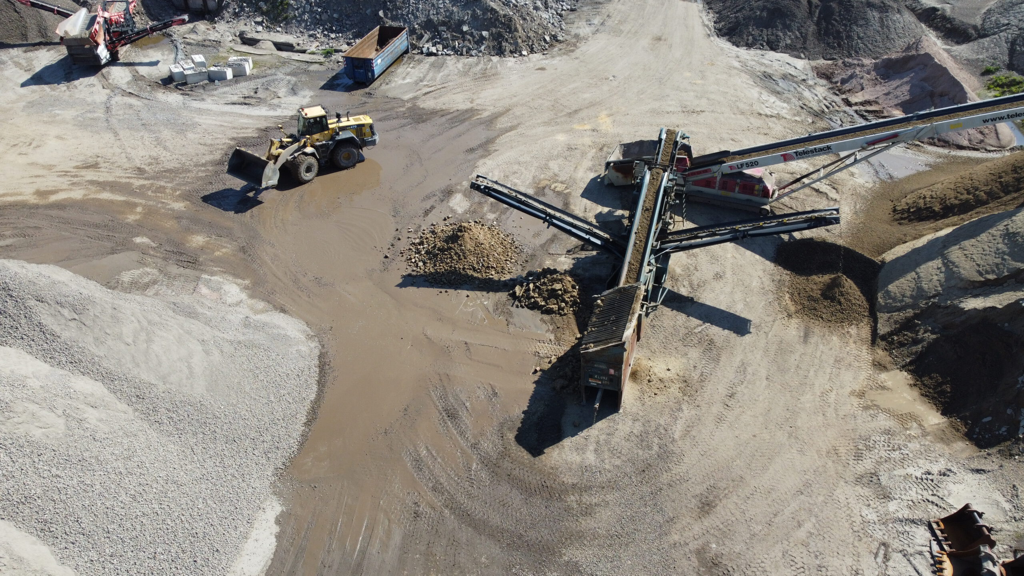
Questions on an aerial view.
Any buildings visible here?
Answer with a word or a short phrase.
No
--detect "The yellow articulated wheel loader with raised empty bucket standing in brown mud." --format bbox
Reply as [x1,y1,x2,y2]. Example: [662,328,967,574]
[225,105,384,191]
